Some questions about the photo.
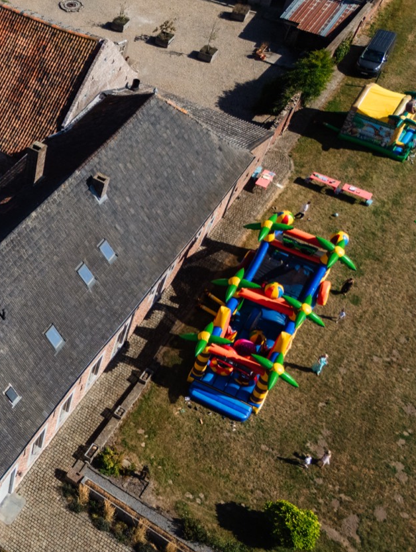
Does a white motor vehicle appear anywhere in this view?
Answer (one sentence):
No, there's no white motor vehicle here.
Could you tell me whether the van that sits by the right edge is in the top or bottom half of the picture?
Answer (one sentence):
The van that sits by the right edge sits in the top half of the picture.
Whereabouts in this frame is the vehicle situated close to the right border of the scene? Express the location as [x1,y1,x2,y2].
[362,24,406,72]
